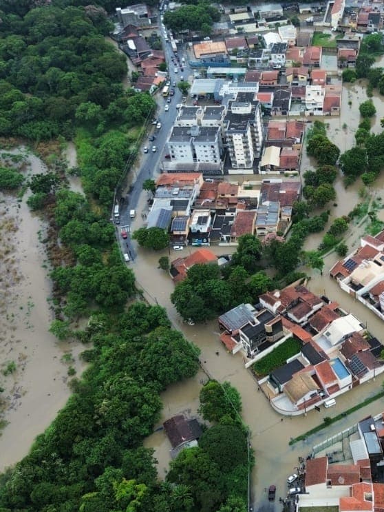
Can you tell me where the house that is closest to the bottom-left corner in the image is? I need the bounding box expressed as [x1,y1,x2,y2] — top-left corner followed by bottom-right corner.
[162,414,204,452]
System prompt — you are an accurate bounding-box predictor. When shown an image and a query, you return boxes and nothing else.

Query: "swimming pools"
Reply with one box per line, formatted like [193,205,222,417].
[331,358,351,381]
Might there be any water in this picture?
Yes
